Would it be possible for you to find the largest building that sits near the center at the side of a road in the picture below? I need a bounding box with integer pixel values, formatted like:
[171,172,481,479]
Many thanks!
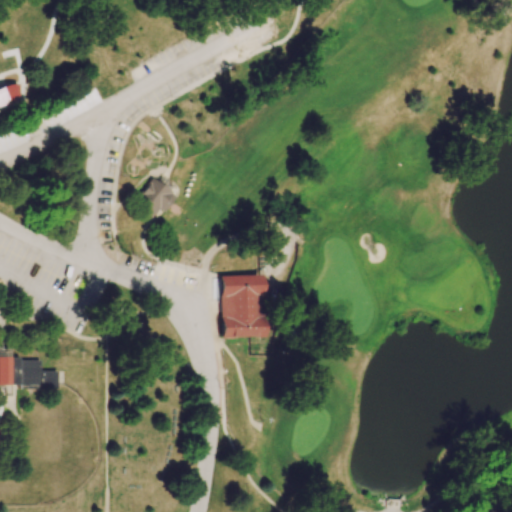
[222,274,271,338]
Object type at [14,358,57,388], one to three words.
shed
